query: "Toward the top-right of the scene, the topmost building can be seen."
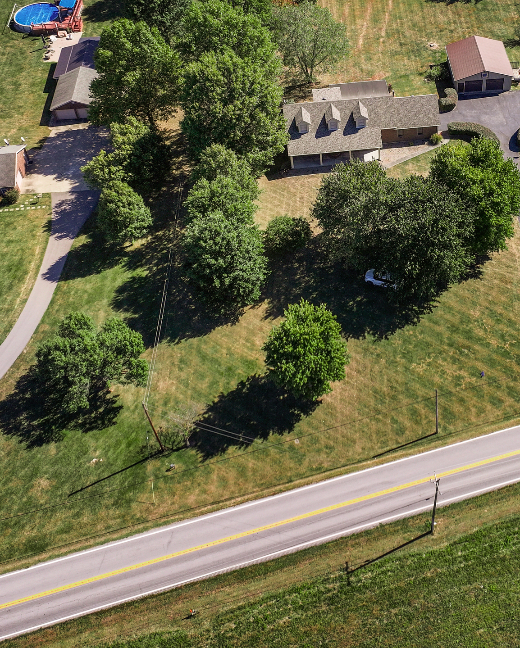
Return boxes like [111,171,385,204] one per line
[445,35,515,96]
